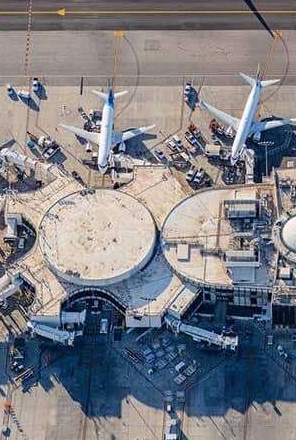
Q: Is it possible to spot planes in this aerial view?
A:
Yes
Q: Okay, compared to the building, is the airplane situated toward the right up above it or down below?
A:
above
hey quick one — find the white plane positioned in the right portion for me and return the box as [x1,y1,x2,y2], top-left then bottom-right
[199,64,296,165]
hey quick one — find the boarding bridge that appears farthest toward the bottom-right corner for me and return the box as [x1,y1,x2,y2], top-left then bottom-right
[161,315,244,354]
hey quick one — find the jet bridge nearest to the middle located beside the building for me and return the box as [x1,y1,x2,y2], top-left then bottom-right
[110,153,154,175]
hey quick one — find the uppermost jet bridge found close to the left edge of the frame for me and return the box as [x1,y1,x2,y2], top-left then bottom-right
[0,151,53,180]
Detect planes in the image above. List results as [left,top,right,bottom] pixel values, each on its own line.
[59,83,155,175]
[199,64,296,165]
